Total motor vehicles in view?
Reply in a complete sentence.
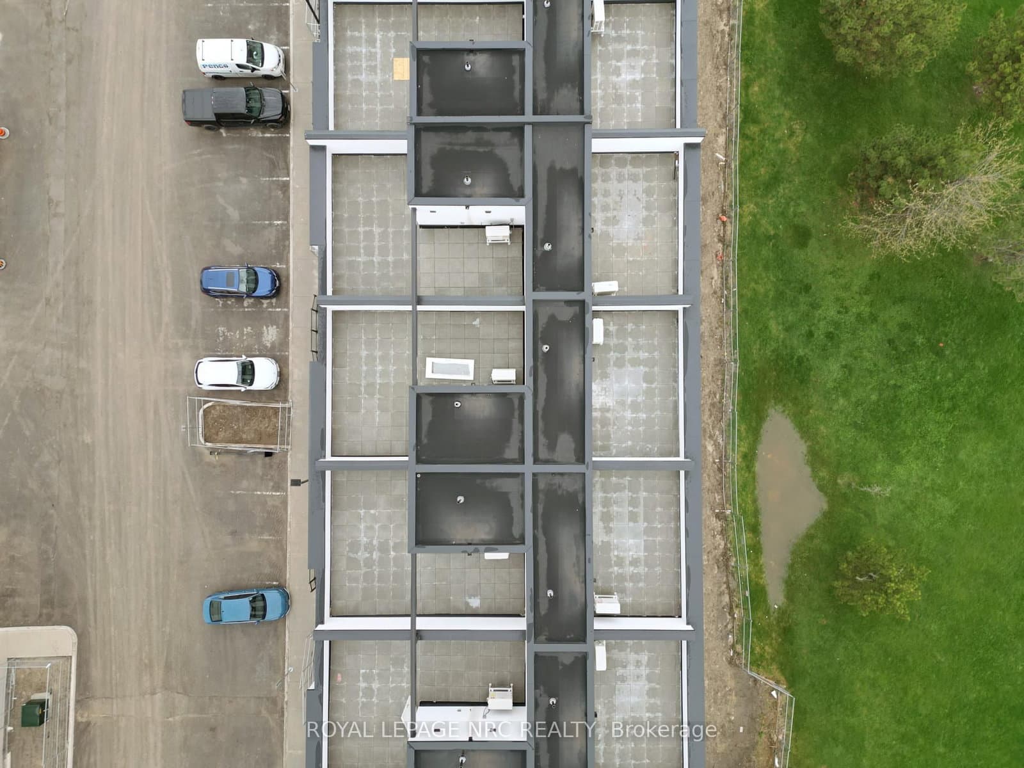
The photo contains 5 motor vehicles.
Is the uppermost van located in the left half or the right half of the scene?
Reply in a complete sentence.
You can find the uppermost van on the left side of the picture.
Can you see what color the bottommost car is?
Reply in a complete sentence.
From above, the bottommost car appears blue.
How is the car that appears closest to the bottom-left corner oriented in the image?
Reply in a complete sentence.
The car that appears closest to the bottom-left corner is oriented horizontally.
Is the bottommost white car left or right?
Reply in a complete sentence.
The bottommost white car sits on the left side.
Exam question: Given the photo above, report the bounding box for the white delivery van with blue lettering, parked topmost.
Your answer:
[196,39,290,81]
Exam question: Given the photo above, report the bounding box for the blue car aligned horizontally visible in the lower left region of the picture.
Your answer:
[204,584,295,626]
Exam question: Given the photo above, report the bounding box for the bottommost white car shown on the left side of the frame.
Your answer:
[192,354,283,395]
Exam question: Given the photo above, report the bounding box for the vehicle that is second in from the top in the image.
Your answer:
[183,84,294,132]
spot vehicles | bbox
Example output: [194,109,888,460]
[196,39,290,81]
[192,354,283,395]
[199,263,284,302]
[204,584,295,626]
[183,84,294,132]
